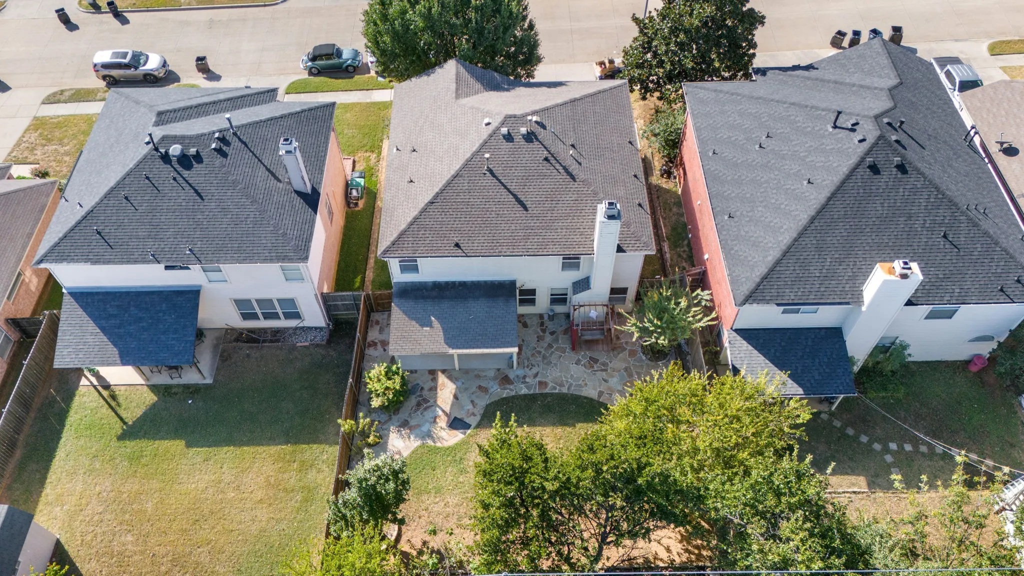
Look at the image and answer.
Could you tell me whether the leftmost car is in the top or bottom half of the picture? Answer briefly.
top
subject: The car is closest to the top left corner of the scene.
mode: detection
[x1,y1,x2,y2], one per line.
[88,46,169,84]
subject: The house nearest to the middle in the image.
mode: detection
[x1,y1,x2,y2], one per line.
[376,57,656,371]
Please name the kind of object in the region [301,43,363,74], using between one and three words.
car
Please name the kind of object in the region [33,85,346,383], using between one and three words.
house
